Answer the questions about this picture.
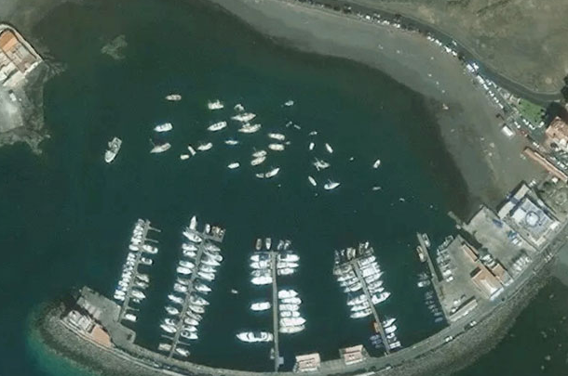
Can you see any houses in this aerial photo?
Yes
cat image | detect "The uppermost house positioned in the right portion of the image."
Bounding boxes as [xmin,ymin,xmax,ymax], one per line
[546,119,568,149]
